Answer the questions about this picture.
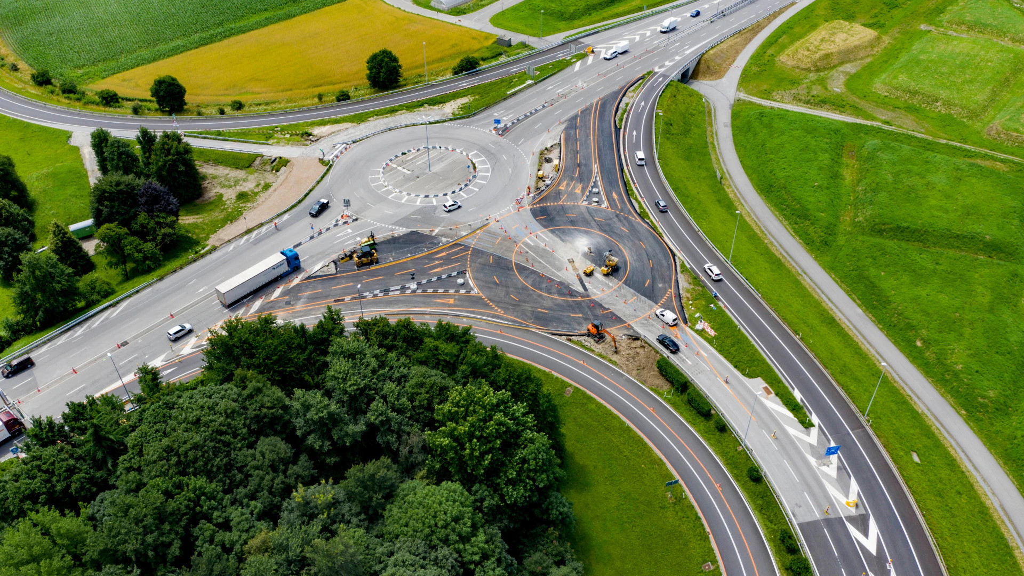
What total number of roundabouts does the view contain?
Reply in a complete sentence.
The count of roundabouts comes to 2.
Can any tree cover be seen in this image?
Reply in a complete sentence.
Yes, there's tree cover in this view.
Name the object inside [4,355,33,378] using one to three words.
vehicle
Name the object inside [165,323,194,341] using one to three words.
car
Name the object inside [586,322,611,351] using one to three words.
work vehicle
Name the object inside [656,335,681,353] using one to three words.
car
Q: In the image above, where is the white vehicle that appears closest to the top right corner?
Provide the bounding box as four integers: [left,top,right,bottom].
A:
[661,16,677,31]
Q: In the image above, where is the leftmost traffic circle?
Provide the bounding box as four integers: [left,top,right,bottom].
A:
[380,145,479,197]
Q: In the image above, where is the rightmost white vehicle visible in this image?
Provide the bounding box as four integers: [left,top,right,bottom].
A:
[702,265,723,281]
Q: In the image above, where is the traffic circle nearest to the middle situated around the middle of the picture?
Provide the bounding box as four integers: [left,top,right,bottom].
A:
[547,228,627,279]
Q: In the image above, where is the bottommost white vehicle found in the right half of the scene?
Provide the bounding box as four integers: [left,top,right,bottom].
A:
[655,310,678,327]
